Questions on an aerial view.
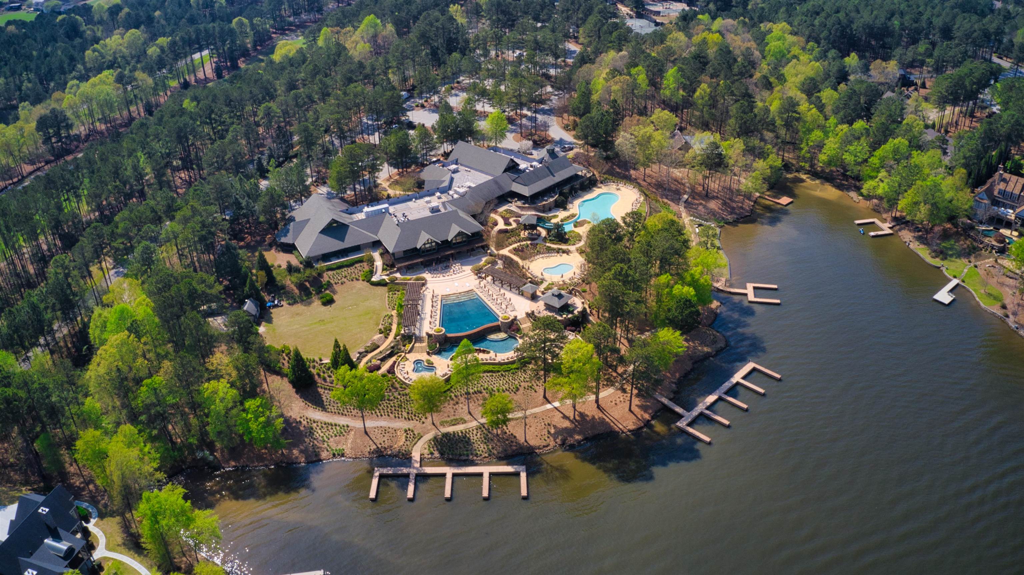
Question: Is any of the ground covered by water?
Yes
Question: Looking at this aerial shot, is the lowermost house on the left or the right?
left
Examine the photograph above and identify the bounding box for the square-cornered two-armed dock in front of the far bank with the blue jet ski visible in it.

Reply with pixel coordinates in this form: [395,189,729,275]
[854,219,902,237]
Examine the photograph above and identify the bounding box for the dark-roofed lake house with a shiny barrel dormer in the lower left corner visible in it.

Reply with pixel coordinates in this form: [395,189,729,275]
[0,482,89,575]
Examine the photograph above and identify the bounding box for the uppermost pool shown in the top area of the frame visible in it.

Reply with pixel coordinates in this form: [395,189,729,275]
[566,192,619,231]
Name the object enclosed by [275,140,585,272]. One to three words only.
building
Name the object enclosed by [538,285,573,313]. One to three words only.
building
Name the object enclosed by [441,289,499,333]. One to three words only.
swimming pool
